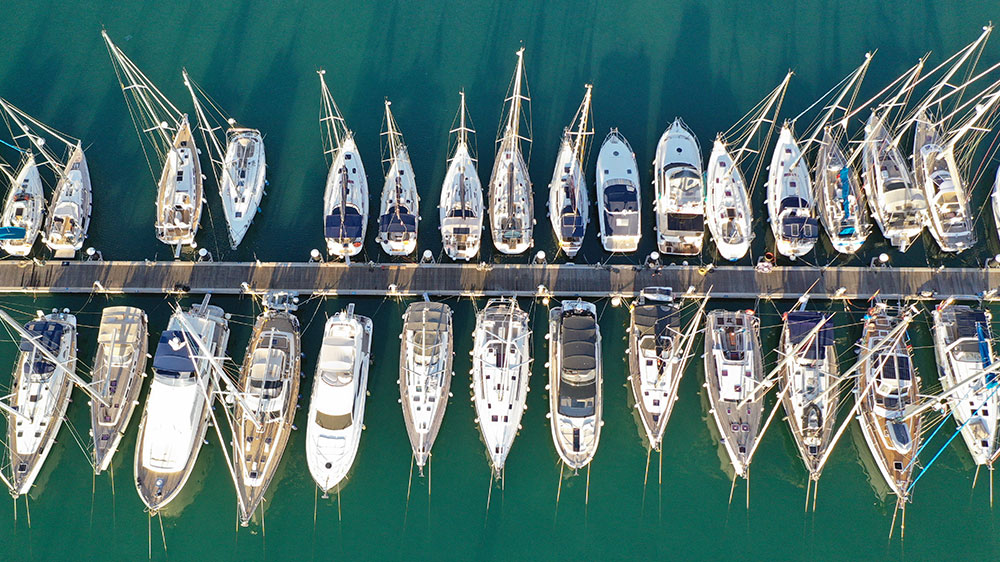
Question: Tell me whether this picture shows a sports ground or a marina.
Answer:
marina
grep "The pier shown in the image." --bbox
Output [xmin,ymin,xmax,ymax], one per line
[0,261,1000,300]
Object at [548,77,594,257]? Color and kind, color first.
white boat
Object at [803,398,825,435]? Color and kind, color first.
gray boat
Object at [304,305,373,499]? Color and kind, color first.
white boat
